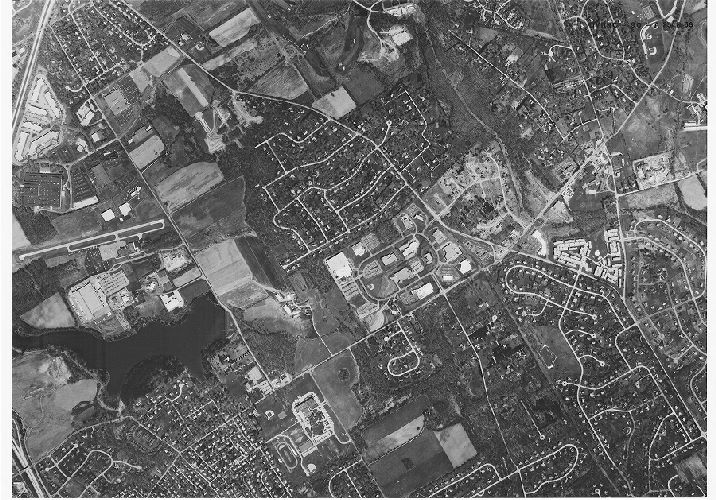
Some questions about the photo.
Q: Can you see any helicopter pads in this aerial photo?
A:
No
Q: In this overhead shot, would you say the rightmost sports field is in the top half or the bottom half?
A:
bottom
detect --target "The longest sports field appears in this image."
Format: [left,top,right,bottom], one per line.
[531,328,580,383]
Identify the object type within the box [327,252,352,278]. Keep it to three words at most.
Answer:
building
